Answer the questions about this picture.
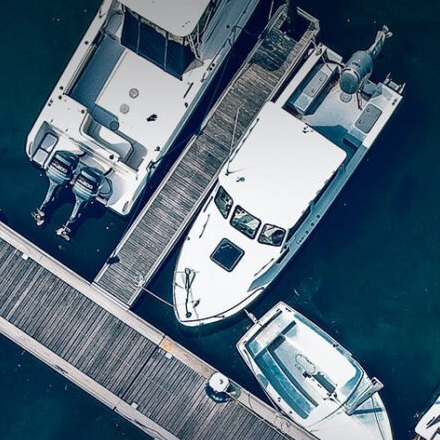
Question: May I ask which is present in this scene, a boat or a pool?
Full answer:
Visible in the photo is a boat.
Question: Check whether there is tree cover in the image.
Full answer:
No, there is no tree cover in the image.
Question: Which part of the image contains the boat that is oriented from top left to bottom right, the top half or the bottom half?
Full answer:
You can find the boat that is oriented from top left to bottom right in the bottom half.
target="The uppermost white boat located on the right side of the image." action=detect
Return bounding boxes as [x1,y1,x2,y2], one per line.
[172,21,404,327]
